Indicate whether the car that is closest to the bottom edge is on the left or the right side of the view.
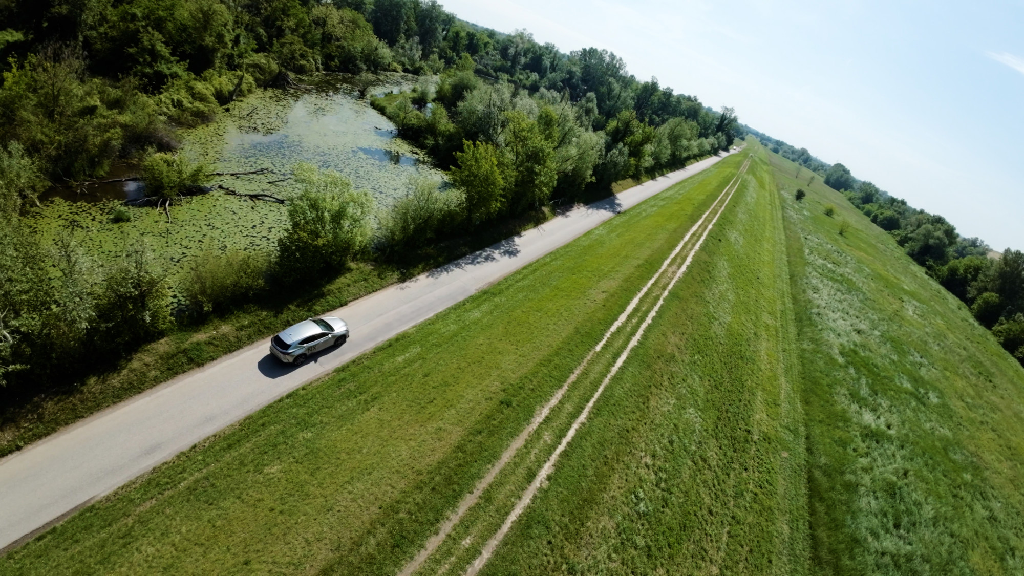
left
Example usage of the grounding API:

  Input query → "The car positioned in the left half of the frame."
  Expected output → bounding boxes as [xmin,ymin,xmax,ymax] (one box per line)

[266,316,350,366]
